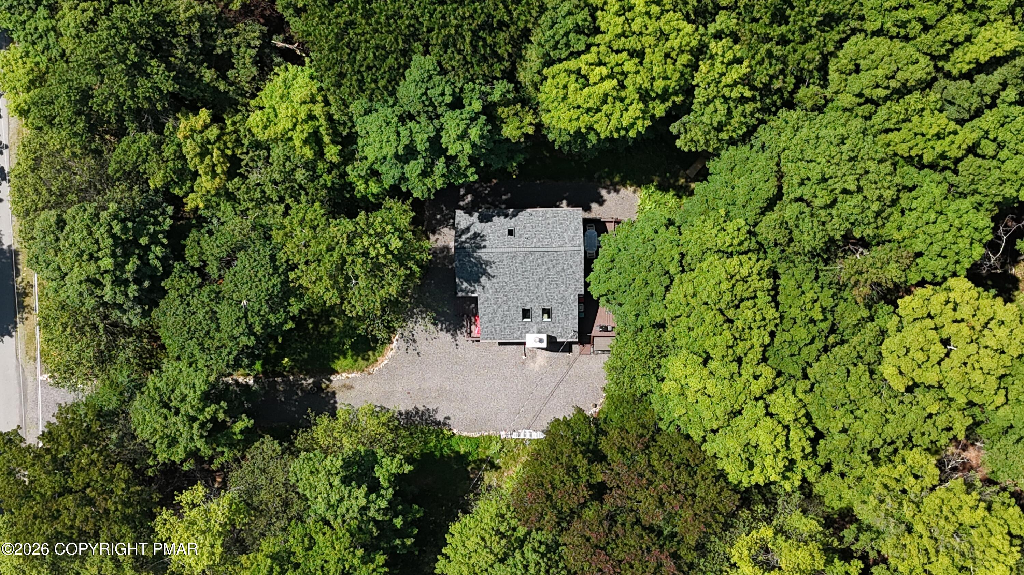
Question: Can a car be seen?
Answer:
No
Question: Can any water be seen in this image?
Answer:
No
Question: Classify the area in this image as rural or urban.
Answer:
rural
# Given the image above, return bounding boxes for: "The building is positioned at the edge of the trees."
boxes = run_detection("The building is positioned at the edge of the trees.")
[454,205,585,354]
